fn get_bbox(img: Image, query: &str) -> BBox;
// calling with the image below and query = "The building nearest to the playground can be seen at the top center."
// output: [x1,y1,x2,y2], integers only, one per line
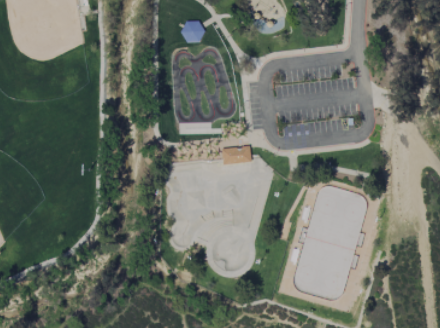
[181,20,206,42]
